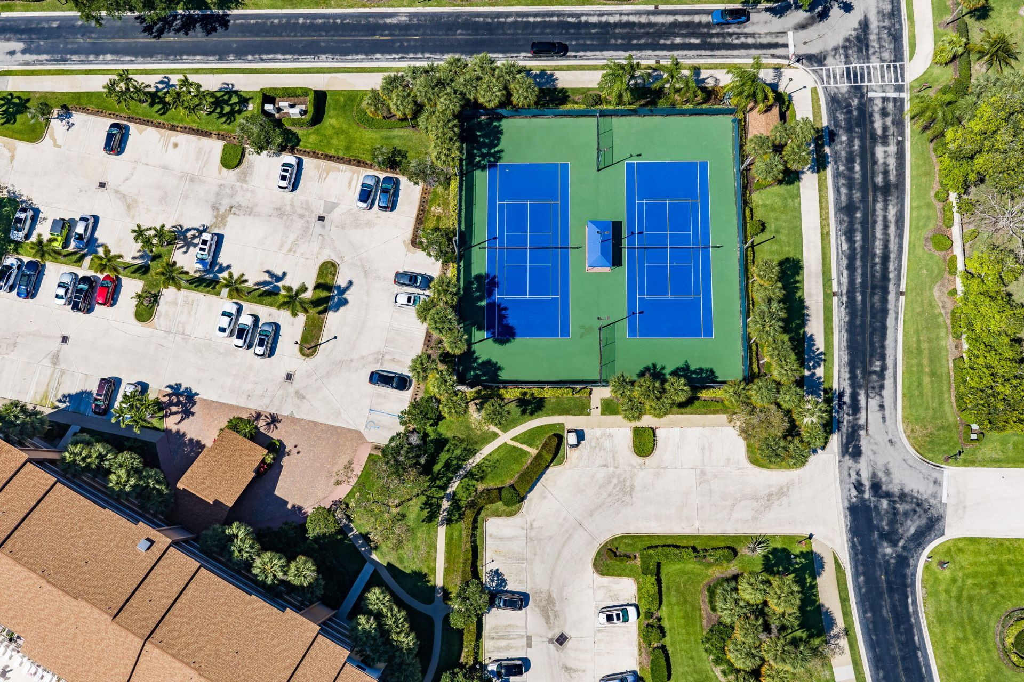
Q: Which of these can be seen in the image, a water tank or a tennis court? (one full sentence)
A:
I can see a tennis court in this picture.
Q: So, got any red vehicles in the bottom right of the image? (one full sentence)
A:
No, there's no red vehicle to be seen in the bottom right of the image.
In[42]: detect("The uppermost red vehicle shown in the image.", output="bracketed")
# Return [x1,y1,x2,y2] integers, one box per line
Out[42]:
[95,274,118,308]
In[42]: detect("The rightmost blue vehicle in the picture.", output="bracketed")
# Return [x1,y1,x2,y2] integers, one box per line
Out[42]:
[711,7,750,26]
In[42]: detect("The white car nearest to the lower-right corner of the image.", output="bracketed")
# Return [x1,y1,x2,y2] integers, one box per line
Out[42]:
[598,604,639,624]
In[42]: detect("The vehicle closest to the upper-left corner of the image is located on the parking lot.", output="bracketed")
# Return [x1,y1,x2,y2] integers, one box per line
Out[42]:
[103,123,125,155]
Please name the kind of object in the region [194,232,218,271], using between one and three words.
car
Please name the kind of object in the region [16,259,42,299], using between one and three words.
car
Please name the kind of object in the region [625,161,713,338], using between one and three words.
tennis court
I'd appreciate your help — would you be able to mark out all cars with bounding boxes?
[49,218,72,250]
[95,274,118,308]
[55,272,78,306]
[531,39,568,58]
[490,592,525,611]
[0,257,24,293]
[599,671,640,682]
[16,259,42,299]
[277,155,298,192]
[91,378,116,415]
[598,604,639,624]
[356,175,378,210]
[711,7,750,26]
[71,276,97,314]
[487,661,525,681]
[234,314,257,350]
[217,301,240,338]
[377,177,399,212]
[253,322,278,359]
[194,232,218,271]
[103,123,125,155]
[392,270,431,292]
[368,370,411,391]
[393,292,426,311]
[72,214,95,249]
[11,207,34,241]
